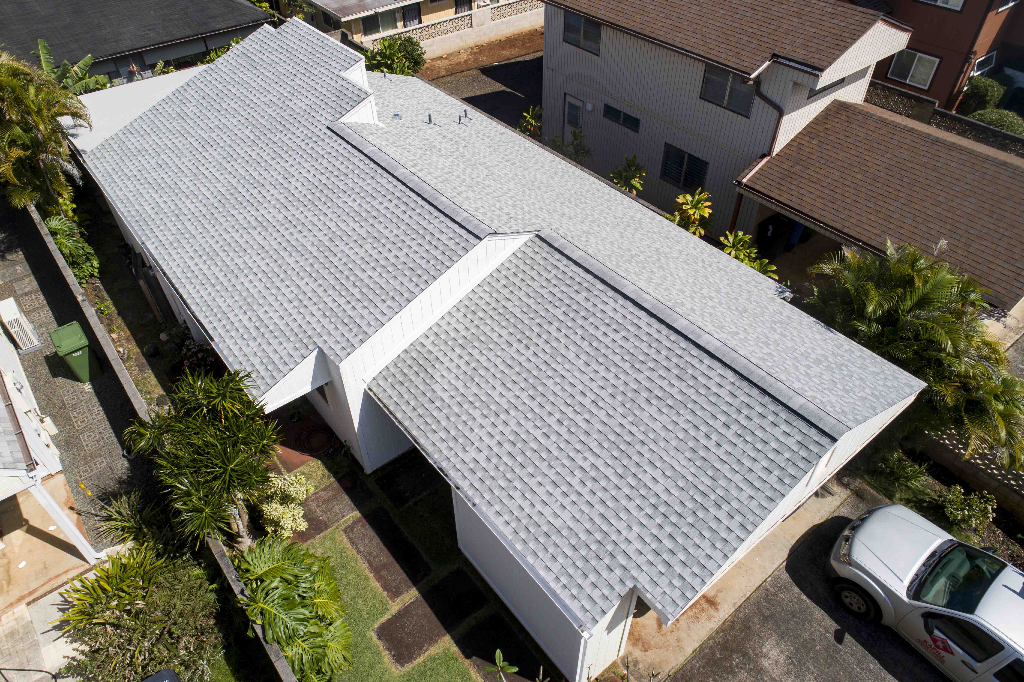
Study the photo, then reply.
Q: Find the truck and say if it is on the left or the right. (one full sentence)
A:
You can find the truck on the right side of the picture.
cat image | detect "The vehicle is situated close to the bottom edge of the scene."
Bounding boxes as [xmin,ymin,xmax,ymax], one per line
[828,508,1024,682]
